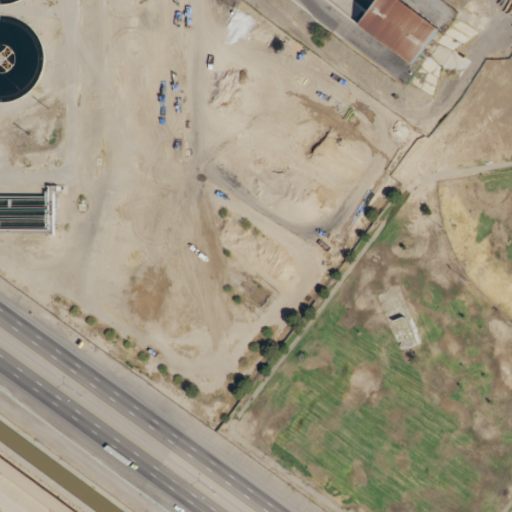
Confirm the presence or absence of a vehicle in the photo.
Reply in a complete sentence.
Yes, you can see a vehicle in this photo.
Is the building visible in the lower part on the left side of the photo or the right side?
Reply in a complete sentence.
It is on the right.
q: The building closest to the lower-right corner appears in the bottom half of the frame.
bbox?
[390,316,422,350]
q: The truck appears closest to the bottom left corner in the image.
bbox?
[104,444,142,472]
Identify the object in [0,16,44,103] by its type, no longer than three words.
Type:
storage tank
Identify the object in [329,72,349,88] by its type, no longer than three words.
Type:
vehicle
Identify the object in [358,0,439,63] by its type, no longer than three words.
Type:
building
